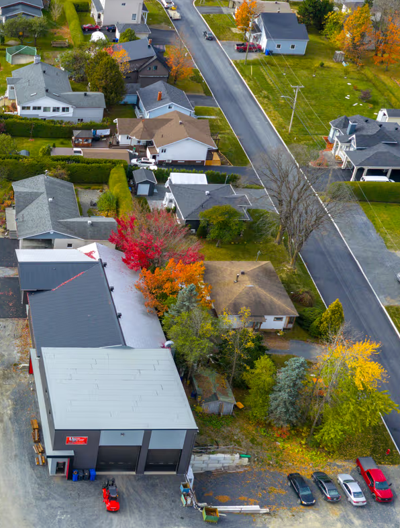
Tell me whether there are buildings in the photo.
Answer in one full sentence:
Yes, there's a building down there.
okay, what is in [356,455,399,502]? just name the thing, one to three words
truck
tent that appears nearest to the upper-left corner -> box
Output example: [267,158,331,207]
[3,45,37,66]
